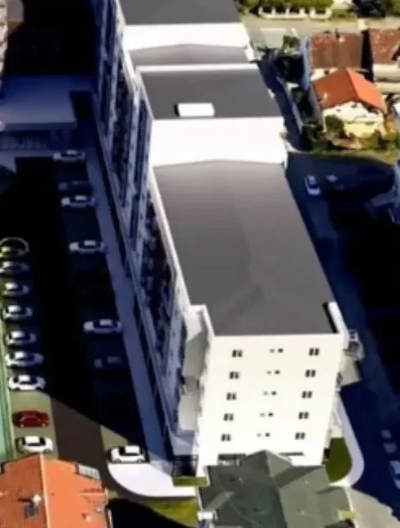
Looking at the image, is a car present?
Yes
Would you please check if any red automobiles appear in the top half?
No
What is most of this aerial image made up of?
buildings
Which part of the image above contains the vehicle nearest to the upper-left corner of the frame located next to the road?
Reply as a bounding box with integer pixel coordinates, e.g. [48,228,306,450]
[53,149,84,161]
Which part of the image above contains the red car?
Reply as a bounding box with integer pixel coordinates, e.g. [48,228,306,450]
[13,409,51,425]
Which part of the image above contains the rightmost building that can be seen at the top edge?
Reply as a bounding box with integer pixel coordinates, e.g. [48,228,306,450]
[360,26,400,92]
